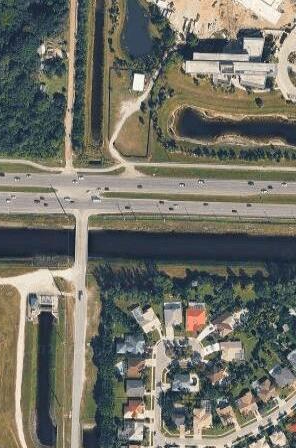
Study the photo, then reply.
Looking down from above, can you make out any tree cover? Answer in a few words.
Yes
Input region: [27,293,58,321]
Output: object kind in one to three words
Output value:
dam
